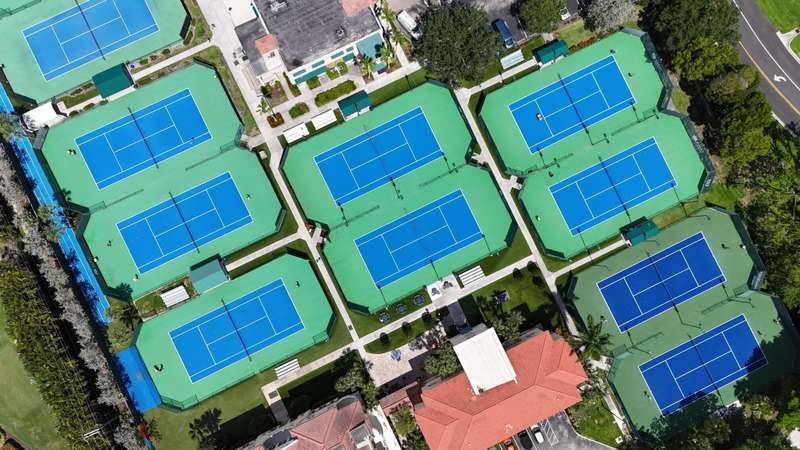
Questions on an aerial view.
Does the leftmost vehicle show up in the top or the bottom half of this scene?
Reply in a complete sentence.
The leftmost vehicle sits in the top half of the picture.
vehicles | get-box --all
[505,437,519,450]
[397,9,421,41]
[495,20,513,48]
[530,423,547,445]
[516,430,534,450]
[555,0,571,23]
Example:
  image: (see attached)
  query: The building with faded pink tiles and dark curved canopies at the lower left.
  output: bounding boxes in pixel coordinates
[233,382,378,450]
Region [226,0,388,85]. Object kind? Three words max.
building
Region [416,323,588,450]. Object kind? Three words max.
building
